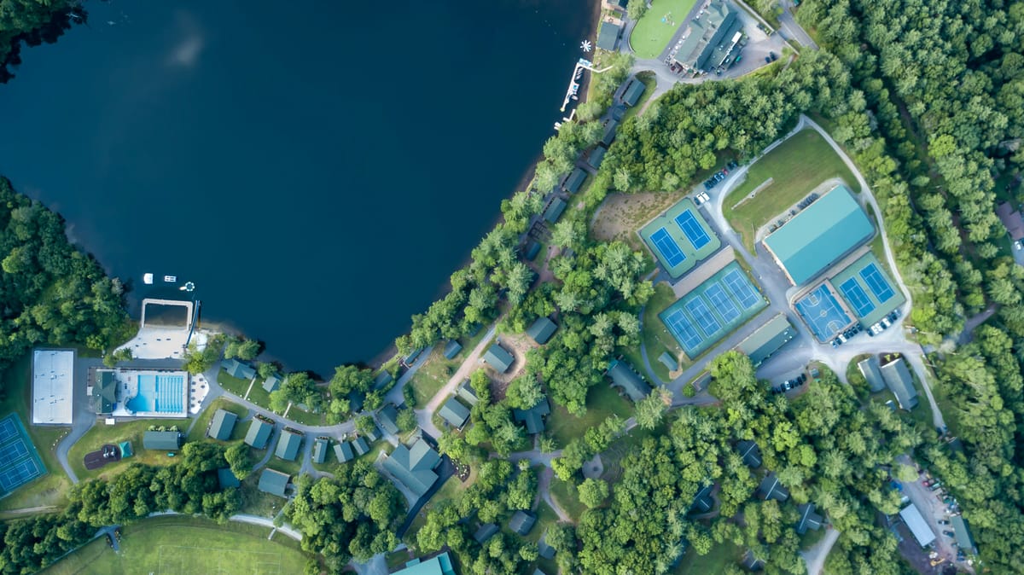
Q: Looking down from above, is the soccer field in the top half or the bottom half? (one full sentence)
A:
The soccer field is in the bottom half of the image.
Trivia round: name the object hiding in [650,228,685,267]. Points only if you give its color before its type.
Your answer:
blue tennis court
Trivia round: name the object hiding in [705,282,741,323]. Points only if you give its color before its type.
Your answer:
blue tennis court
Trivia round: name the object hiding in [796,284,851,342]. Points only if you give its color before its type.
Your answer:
blue basketball court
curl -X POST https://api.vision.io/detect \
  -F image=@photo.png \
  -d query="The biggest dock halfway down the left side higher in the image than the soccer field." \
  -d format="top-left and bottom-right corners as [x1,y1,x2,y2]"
[141,299,193,329]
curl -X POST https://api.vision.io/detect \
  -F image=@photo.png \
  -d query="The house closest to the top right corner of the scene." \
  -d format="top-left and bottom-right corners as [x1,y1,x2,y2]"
[994,201,1024,241]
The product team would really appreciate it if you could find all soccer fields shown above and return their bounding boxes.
[48,522,307,575]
